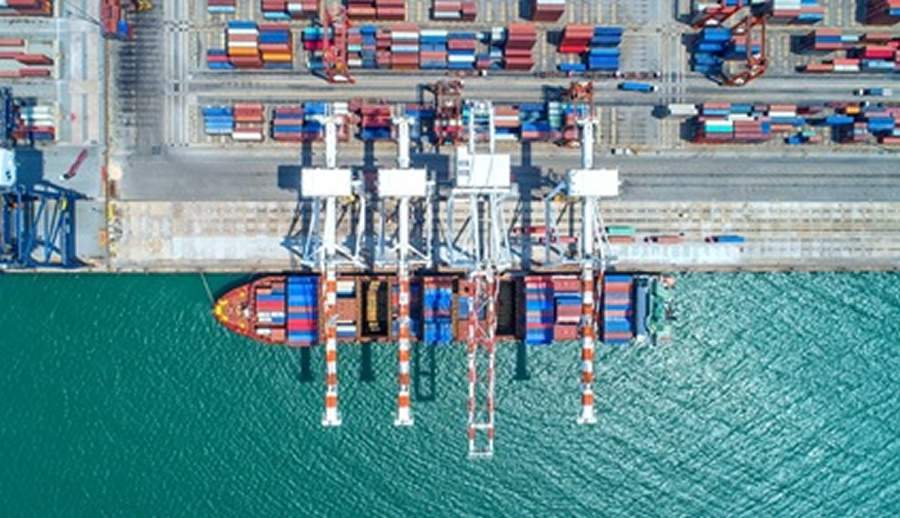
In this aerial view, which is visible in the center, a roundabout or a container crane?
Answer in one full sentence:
What appears in the center is a container crane.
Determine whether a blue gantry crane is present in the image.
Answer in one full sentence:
Yes, a blue gantry crane can be made out from above.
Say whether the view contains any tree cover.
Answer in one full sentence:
No, the picture contains no tree cover.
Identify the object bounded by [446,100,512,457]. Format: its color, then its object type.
white container crane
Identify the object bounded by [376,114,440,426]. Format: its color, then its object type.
white container crane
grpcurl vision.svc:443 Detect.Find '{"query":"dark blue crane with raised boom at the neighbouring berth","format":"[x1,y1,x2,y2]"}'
[0,85,99,277]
